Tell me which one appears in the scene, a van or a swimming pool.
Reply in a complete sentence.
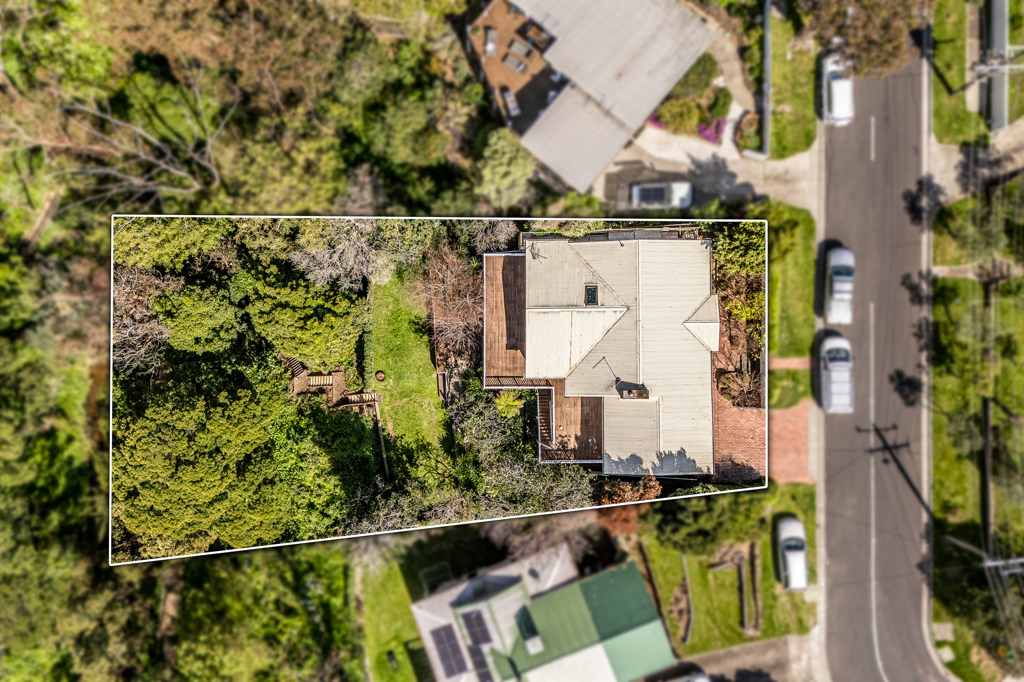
It is a van that can be seen here.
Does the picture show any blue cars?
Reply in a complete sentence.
No, there appears to be no blue car in this shot.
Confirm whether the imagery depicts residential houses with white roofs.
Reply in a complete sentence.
Yes, the frame does contain a residential house with a white roof.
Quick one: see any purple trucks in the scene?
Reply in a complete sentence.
No, there isn't any purple truck down there.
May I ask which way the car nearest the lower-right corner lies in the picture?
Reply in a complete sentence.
The car nearest the lower-right corner is oriented up and down.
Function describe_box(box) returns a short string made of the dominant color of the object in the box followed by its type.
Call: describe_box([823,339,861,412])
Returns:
white van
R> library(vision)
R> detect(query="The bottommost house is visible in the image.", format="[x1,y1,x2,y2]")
[410,533,676,682]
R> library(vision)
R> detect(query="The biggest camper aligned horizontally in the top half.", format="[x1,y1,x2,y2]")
[636,179,697,209]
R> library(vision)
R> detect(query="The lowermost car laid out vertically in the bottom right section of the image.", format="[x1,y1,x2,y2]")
[779,518,814,593]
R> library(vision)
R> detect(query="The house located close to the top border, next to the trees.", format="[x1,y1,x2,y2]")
[514,0,717,198]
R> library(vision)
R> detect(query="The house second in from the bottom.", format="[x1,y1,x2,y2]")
[525,239,720,477]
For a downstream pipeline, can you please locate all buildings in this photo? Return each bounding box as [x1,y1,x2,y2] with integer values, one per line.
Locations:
[410,533,676,682]
[514,0,717,198]
[525,239,720,477]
